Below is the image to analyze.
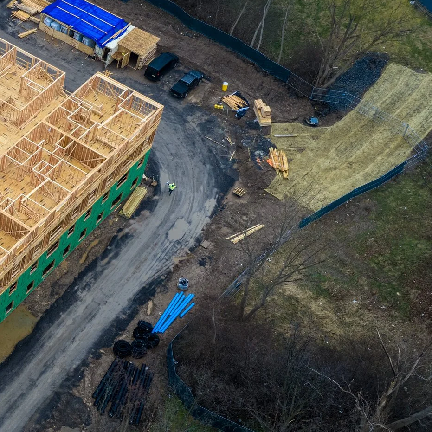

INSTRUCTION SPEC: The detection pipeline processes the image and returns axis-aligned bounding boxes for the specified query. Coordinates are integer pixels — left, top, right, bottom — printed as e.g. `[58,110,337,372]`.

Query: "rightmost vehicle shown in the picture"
[169,69,205,100]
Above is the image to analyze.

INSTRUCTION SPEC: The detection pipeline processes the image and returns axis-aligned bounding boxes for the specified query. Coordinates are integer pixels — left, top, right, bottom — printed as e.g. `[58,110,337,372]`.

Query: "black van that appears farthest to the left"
[145,53,181,84]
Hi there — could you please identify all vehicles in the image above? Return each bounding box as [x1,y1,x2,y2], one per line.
[145,53,181,84]
[169,69,205,100]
